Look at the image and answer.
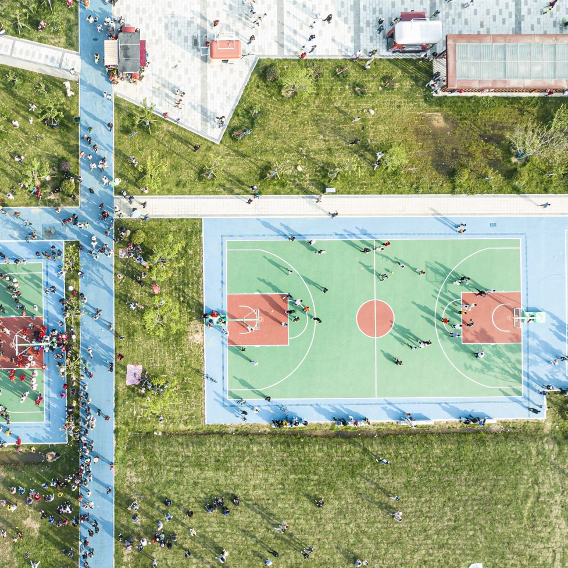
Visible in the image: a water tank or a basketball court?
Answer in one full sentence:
This aerial view contains a basketball court.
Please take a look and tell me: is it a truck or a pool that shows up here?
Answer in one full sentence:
There is a truck in the scene.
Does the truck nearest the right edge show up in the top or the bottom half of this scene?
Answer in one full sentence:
The truck nearest the right edge is in the top half of the image.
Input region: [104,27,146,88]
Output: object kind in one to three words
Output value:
truck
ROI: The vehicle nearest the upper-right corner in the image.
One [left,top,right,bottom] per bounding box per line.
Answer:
[375,14,440,53]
